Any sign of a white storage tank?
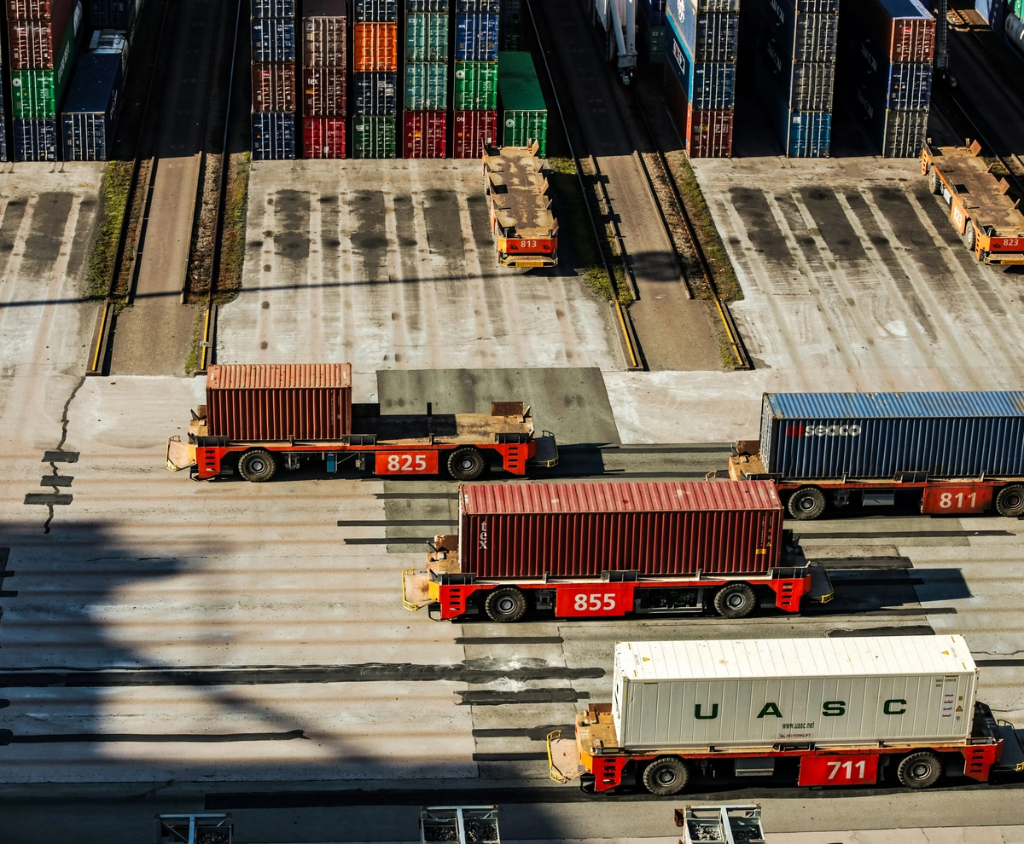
No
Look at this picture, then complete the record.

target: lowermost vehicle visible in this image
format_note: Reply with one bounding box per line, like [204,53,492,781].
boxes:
[548,694,1024,794]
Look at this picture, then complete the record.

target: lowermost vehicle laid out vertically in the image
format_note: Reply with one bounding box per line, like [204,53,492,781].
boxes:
[482,140,558,266]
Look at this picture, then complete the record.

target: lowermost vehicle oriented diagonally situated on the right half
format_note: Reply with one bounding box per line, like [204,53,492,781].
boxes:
[923,141,1024,266]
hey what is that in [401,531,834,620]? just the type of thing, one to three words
vehicle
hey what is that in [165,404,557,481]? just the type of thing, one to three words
vehicle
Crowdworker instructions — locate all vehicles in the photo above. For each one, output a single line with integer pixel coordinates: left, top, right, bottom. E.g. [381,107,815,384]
[548,694,1024,794]
[705,441,1024,517]
[482,140,558,266]
[165,404,557,481]
[401,531,834,620]
[923,141,1024,266]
